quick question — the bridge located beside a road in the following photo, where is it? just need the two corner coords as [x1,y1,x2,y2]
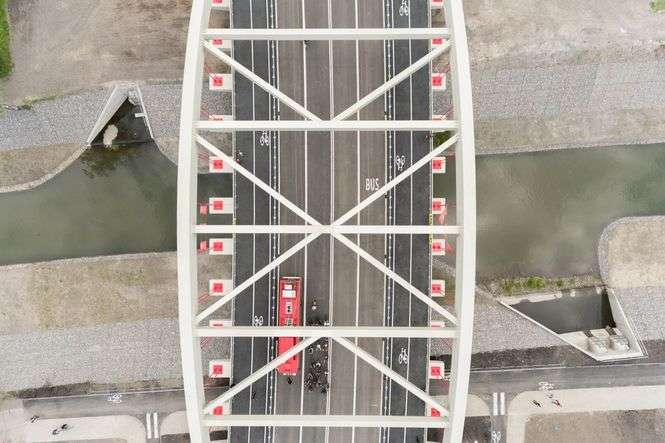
[175,0,477,443]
